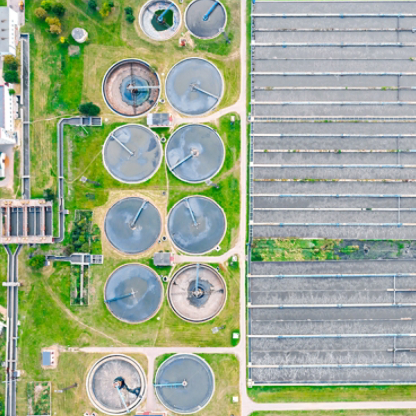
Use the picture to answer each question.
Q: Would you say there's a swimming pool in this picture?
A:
Yes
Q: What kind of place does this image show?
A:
industrial area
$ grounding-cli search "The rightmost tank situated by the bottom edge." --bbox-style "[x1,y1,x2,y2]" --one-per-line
[153,353,215,415]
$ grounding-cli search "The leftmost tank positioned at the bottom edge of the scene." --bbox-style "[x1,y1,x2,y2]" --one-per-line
[85,354,148,415]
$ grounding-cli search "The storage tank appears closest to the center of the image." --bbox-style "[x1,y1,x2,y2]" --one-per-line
[166,195,226,255]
